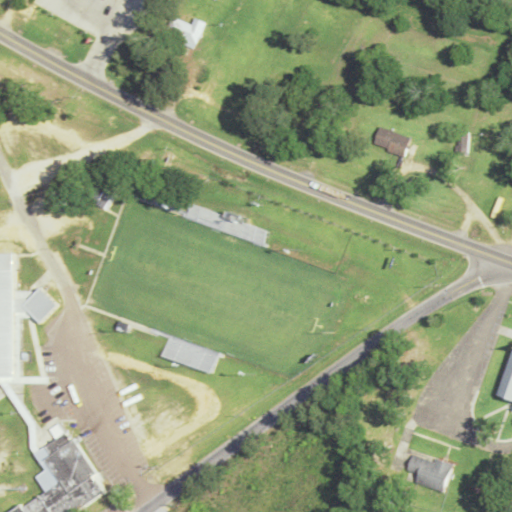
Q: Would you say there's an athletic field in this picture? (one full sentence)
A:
Yes, this view includes an athletic field.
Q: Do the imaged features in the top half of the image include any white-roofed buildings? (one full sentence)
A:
Yes, a white-roofed building can be seen in the top half of the image.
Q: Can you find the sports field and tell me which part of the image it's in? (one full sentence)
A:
The sports field is in the center part of the image.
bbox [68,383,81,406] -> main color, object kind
white vehicle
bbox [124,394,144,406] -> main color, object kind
white vehicle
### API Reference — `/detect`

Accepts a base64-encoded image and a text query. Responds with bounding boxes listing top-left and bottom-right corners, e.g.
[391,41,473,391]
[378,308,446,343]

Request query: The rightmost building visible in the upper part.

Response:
[452,132,471,156]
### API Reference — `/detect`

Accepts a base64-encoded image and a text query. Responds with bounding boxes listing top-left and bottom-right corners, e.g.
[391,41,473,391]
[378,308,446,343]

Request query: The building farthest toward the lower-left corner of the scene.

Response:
[12,436,106,512]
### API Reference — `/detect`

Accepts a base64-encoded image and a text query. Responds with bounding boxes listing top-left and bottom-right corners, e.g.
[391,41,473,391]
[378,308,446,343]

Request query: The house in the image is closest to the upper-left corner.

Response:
[169,17,209,51]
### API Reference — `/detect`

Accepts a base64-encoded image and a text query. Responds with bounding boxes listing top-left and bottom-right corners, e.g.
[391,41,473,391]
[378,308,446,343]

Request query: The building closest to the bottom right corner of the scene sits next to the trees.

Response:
[405,455,456,492]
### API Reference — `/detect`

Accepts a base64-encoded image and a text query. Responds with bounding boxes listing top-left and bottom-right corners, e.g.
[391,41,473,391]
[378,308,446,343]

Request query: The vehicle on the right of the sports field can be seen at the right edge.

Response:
[492,196,505,220]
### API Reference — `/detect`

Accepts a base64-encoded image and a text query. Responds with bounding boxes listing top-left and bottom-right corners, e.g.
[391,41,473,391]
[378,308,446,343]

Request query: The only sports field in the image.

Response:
[88,204,346,376]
